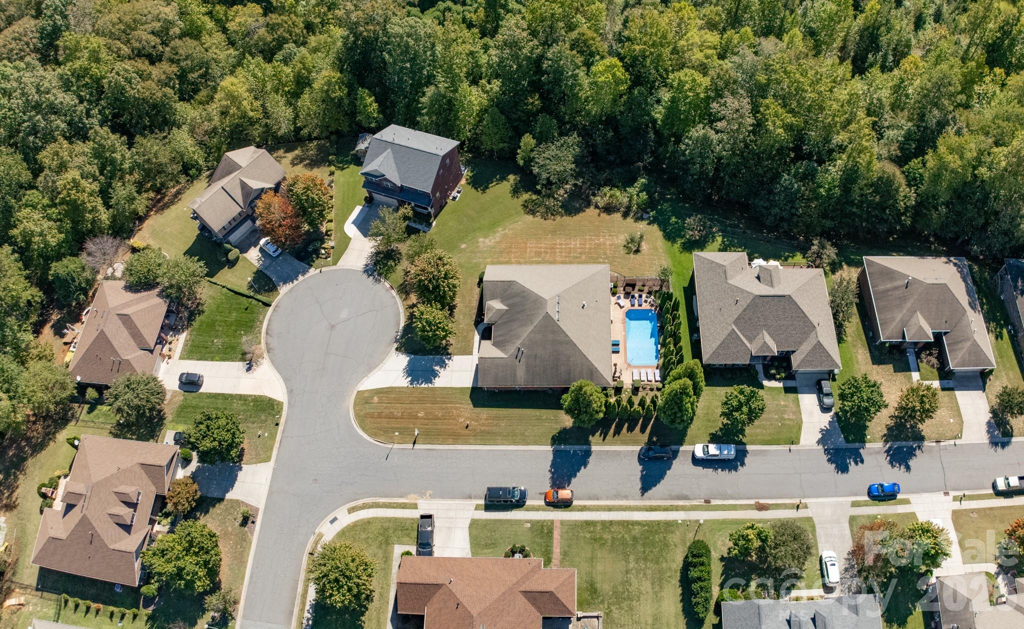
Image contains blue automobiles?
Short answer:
Yes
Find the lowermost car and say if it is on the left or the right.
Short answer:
right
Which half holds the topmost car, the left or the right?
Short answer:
left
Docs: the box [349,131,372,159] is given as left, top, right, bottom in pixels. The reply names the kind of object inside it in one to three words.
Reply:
gazebo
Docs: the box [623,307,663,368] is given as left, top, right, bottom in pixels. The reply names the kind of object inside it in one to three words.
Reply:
swimming pool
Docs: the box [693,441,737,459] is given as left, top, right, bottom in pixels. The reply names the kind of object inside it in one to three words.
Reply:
vehicle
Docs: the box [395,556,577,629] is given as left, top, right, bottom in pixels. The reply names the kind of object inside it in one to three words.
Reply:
house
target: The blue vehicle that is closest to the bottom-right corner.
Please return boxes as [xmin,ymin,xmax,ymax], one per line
[866,480,902,497]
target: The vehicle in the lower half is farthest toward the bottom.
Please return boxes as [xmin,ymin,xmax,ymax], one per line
[820,550,841,586]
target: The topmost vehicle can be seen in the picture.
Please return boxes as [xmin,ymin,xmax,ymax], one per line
[258,237,283,258]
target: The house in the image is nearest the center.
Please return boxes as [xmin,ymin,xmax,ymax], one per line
[477,264,613,391]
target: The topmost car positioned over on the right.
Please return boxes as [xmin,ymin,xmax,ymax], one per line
[816,379,835,408]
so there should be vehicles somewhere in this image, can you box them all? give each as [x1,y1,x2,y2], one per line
[415,513,434,557]
[169,429,192,445]
[816,379,835,408]
[544,486,574,504]
[258,237,283,258]
[866,480,902,497]
[175,370,207,387]
[992,473,1024,491]
[485,484,527,502]
[639,443,672,460]
[820,550,841,586]
[693,441,737,459]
